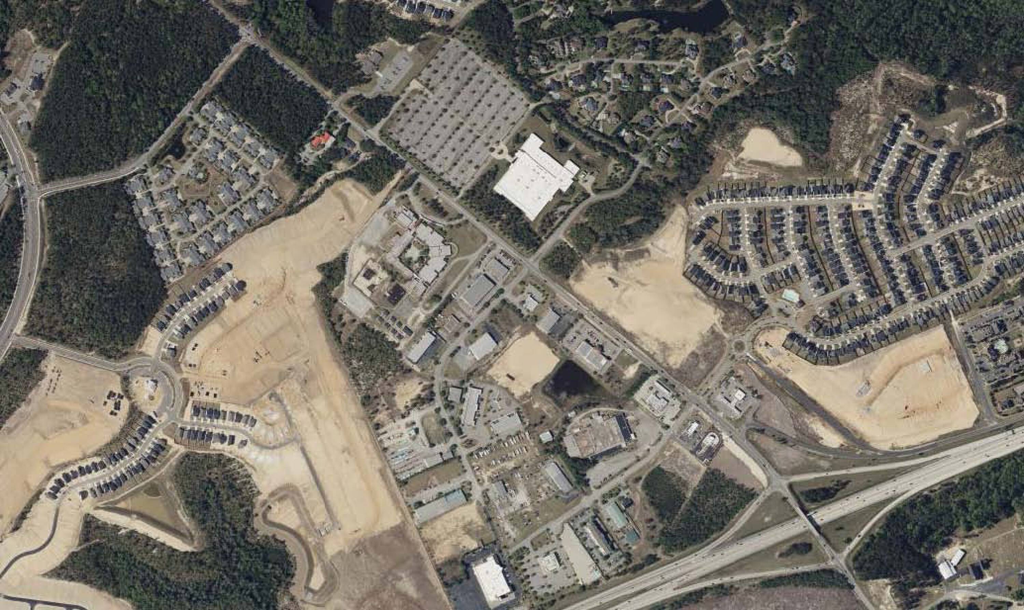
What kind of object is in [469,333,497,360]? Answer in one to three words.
building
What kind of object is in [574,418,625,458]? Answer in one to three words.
building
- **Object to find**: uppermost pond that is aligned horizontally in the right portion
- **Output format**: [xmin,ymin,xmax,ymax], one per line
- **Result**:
[602,0,732,33]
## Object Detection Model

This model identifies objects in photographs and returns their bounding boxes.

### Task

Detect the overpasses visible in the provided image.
[775,481,849,574]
